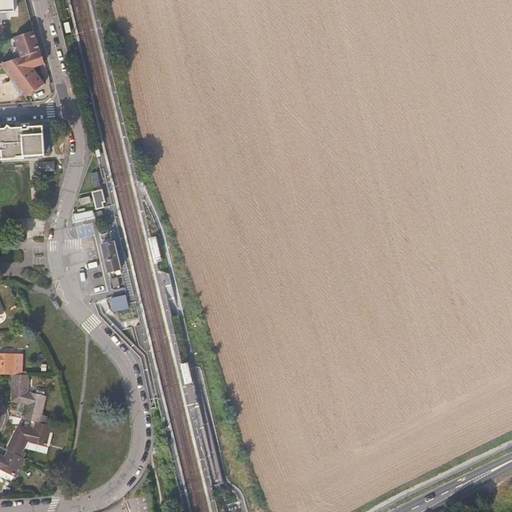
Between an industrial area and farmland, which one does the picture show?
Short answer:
farmland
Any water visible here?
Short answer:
No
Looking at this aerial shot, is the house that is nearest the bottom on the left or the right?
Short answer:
left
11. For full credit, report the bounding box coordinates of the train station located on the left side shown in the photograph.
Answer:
[88,0,219,512]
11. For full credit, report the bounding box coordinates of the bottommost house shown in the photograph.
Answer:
[0,421,52,482]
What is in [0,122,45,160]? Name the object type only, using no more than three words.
building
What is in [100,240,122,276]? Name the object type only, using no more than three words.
house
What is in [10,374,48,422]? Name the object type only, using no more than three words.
house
